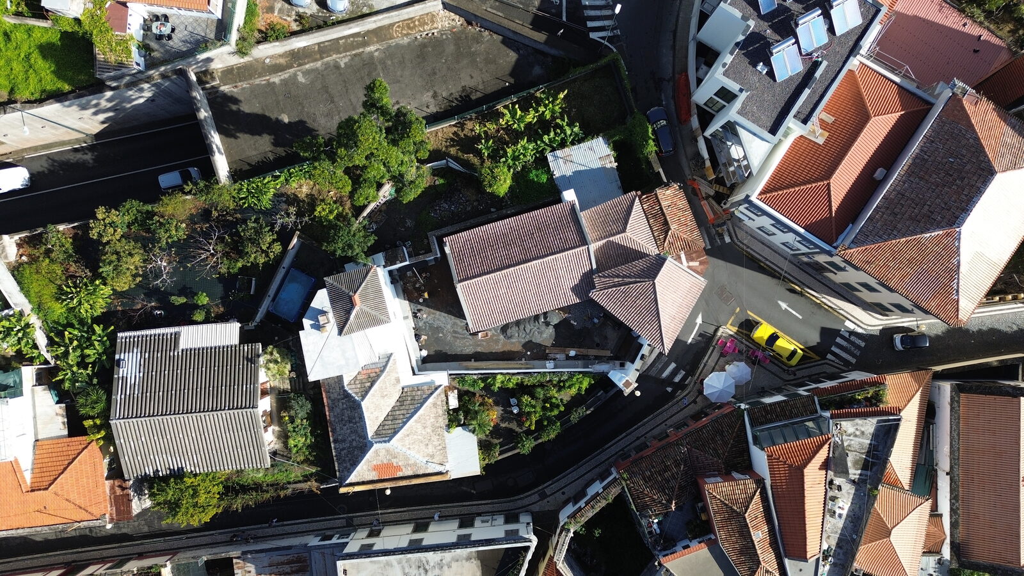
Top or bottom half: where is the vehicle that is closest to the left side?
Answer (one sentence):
Seen from above, the vehicle that is closest to the left side lies in the top half of the view.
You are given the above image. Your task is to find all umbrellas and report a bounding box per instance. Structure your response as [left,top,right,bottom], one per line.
[702,370,733,401]
[725,360,749,384]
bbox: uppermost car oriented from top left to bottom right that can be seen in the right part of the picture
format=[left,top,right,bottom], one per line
[750,324,804,366]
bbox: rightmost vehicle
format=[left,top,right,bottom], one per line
[893,331,930,353]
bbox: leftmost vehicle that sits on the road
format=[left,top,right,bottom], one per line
[0,166,32,190]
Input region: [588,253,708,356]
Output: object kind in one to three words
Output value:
house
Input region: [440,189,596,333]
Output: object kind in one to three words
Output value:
house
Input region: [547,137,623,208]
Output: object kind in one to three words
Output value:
shed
